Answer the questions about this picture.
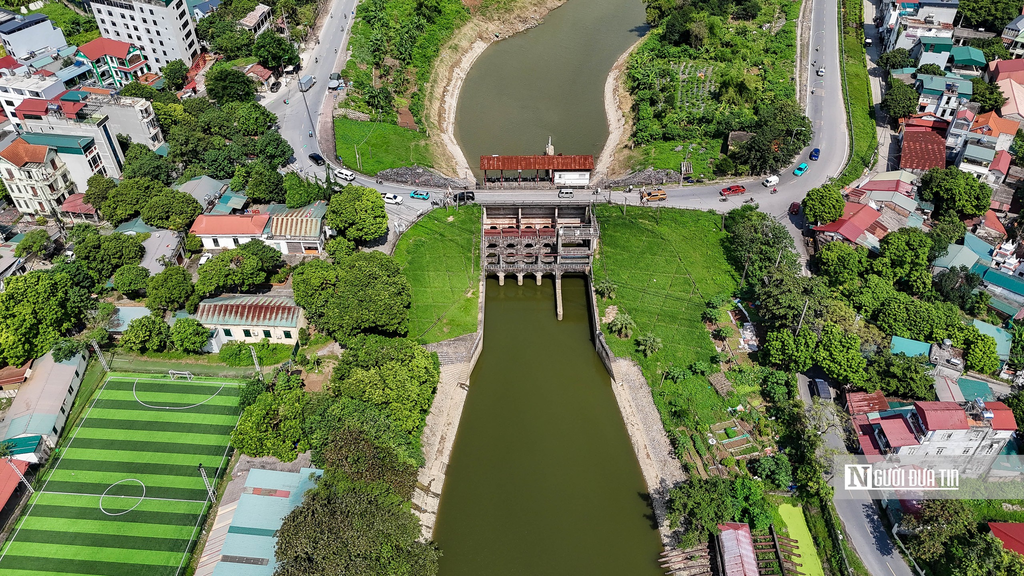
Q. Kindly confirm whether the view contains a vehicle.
Yes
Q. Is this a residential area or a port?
residential area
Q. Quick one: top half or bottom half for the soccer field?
bottom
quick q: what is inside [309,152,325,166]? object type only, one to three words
car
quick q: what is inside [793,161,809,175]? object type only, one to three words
car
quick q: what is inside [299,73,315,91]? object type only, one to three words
vehicle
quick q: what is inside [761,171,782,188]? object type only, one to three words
vehicle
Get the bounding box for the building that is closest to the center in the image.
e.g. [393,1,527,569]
[479,155,606,187]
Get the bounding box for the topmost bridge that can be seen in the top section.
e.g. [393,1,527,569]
[469,182,603,208]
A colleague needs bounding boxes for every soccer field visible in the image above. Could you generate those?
[0,358,284,576]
